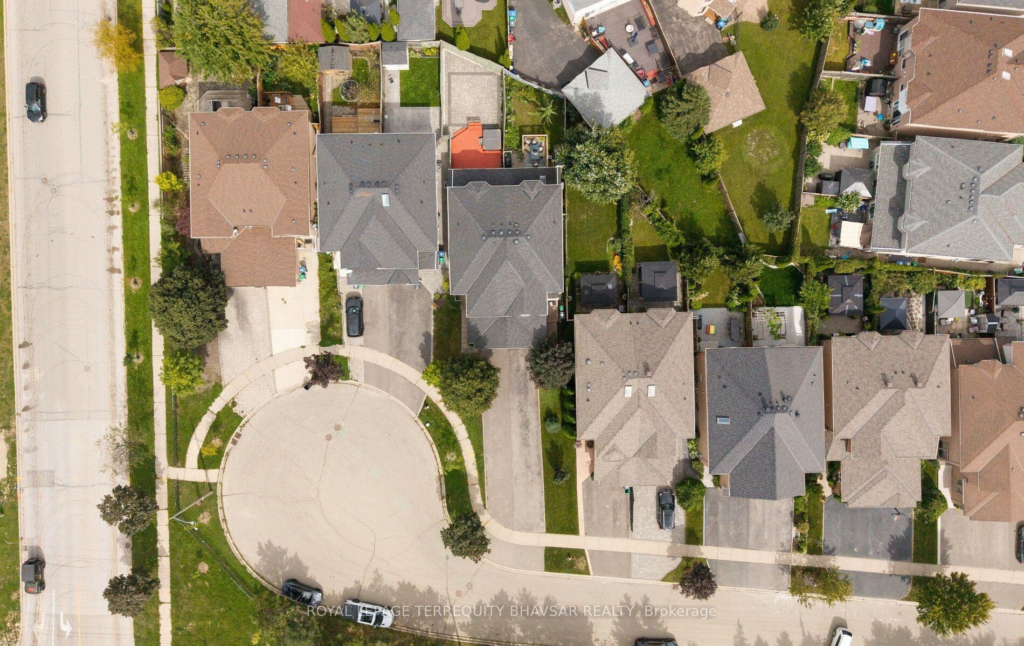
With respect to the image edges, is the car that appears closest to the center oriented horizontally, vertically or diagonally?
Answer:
vertically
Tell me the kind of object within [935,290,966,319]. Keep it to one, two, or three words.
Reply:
gazebo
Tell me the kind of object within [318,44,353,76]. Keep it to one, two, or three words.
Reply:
shed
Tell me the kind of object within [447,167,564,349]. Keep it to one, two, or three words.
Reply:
house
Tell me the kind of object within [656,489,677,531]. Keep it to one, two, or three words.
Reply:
car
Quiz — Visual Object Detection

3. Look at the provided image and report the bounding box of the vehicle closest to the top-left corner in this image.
[24,82,50,124]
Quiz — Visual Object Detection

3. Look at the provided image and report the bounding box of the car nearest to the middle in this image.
[344,296,364,337]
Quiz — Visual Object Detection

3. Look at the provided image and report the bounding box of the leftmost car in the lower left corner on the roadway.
[21,557,49,596]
